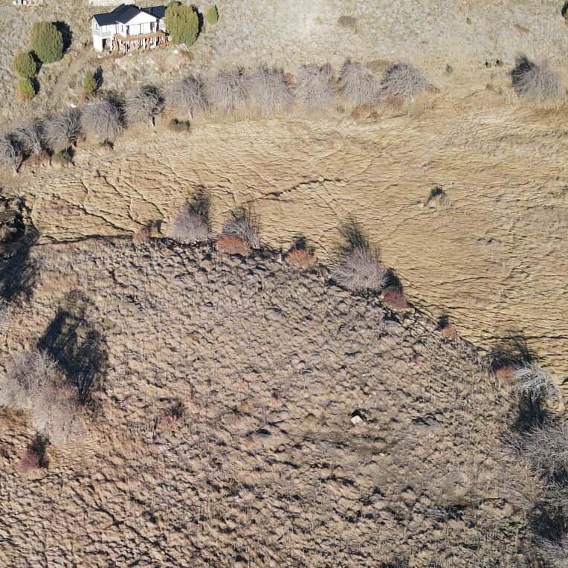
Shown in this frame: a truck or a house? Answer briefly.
house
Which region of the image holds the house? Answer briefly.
top left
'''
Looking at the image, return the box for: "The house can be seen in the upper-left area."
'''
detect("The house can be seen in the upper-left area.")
[87,1,187,59]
